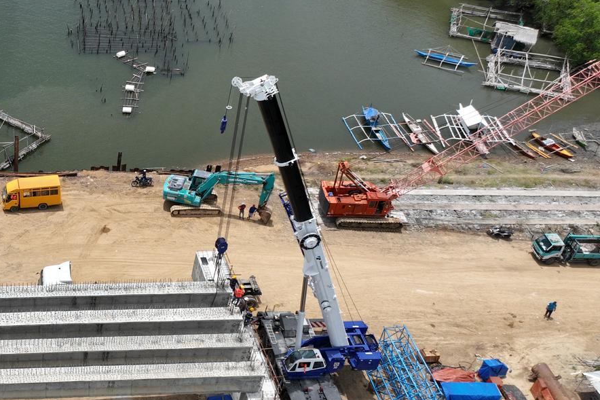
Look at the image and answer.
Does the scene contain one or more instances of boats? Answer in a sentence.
Yes, there's a boat here.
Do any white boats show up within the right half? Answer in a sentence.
Yes, the scene does show a white boat within the right half.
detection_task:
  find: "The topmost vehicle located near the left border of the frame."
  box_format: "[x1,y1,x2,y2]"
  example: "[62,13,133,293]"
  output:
[1,173,66,213]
